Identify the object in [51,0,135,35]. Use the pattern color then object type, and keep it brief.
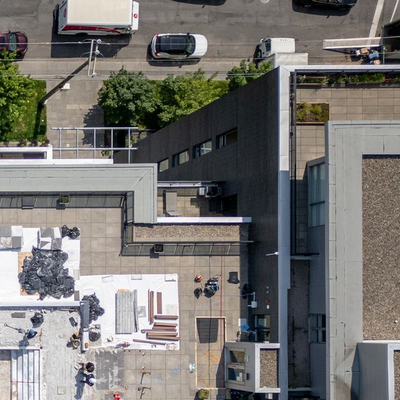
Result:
white truck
